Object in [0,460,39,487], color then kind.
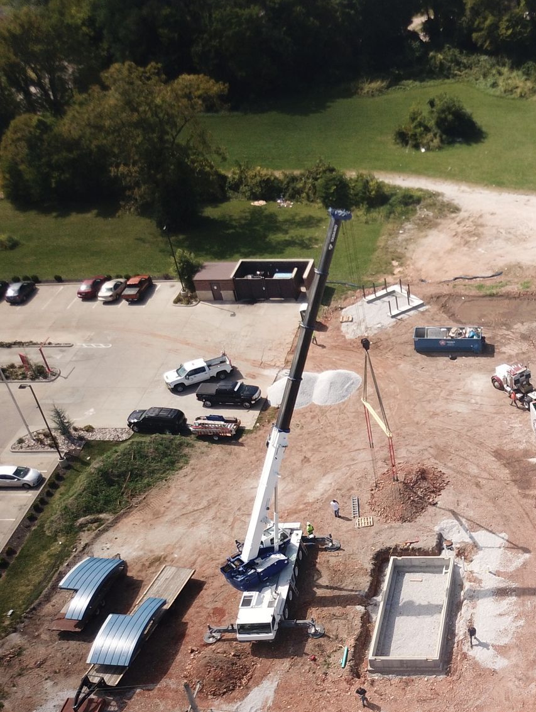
white car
